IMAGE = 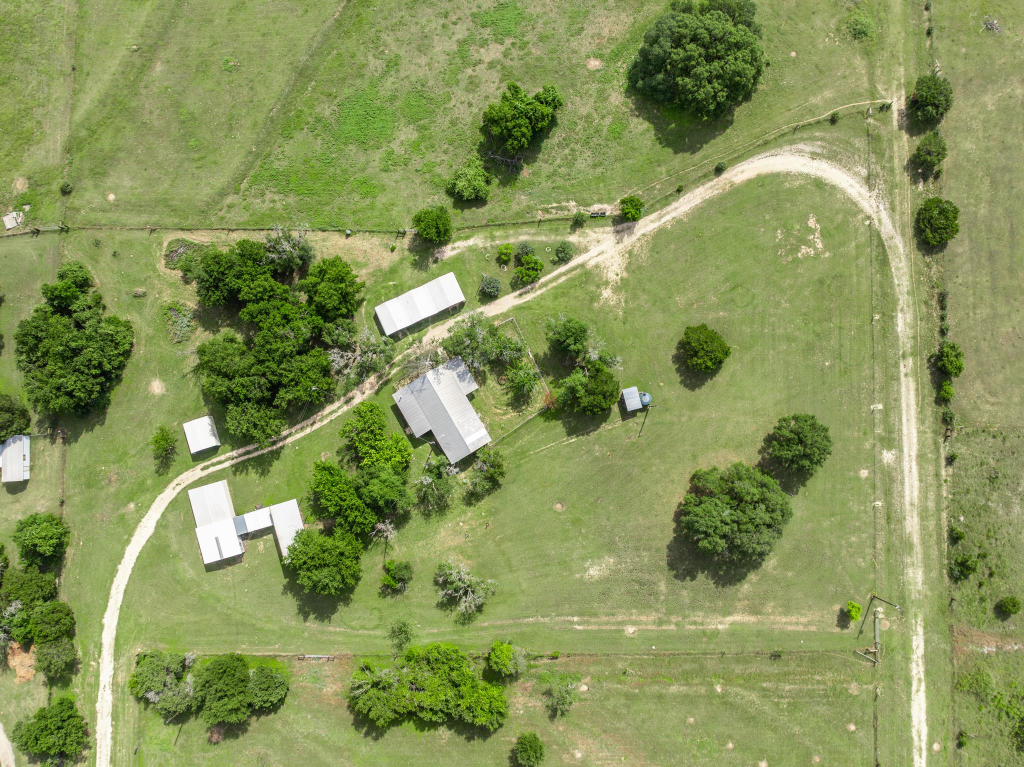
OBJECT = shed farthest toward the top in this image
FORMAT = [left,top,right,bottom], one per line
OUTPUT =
[375,272,465,335]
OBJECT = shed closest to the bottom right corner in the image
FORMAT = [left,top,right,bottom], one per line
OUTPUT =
[622,386,642,411]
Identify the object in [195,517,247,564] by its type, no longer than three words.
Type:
barn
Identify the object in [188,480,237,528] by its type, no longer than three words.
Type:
barn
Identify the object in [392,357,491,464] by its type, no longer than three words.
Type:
house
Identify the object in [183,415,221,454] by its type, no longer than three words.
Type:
shed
